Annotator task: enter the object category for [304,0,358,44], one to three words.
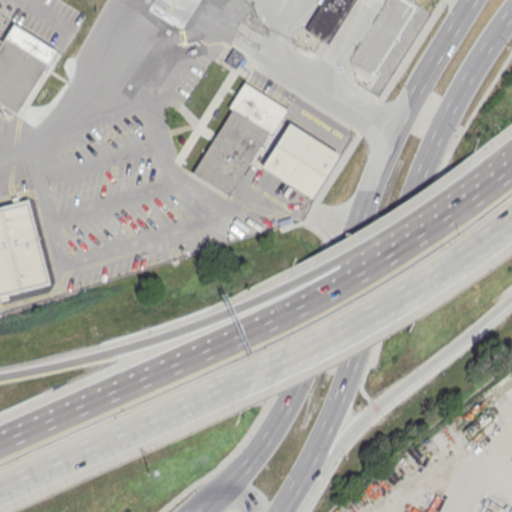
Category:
building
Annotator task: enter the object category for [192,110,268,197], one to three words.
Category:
building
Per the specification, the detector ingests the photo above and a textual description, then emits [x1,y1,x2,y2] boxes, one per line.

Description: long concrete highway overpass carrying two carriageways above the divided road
[228,144,486,418]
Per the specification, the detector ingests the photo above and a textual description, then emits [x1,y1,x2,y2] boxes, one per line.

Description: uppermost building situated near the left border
[4,22,58,64]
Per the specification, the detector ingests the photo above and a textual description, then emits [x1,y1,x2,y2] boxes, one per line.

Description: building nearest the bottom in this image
[0,194,54,303]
